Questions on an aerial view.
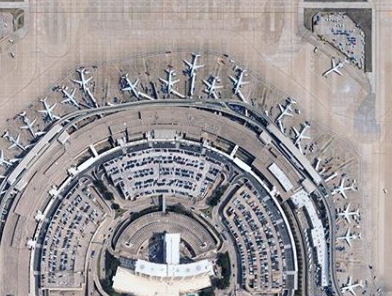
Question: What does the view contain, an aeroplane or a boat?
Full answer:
This aerial view contains an aeroplane.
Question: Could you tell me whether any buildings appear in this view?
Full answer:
Yes, there is a building in the image.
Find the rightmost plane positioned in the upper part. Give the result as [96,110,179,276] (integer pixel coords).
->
[325,57,346,75]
